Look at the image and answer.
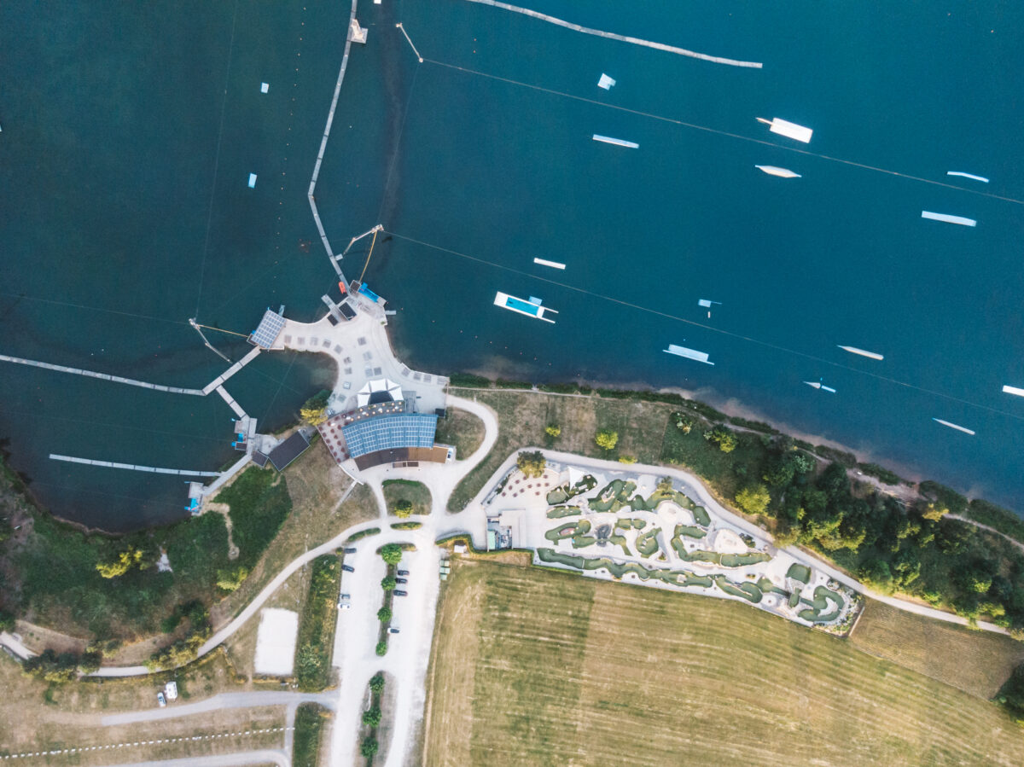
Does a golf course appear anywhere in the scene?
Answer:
Yes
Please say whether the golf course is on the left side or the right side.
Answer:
right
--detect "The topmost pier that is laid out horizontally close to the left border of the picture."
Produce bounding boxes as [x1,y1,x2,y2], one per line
[0,354,205,396]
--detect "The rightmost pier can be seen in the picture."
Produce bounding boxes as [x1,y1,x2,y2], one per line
[457,0,761,68]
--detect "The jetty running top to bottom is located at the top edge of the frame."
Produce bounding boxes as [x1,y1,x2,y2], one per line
[309,0,357,295]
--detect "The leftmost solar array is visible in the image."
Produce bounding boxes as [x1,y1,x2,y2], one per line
[251,311,285,348]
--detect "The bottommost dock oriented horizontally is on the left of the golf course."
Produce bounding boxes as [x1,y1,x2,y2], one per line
[50,454,220,477]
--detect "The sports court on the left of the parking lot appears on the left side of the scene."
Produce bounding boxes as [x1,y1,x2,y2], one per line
[255,609,298,675]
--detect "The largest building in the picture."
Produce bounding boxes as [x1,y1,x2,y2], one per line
[342,413,449,471]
